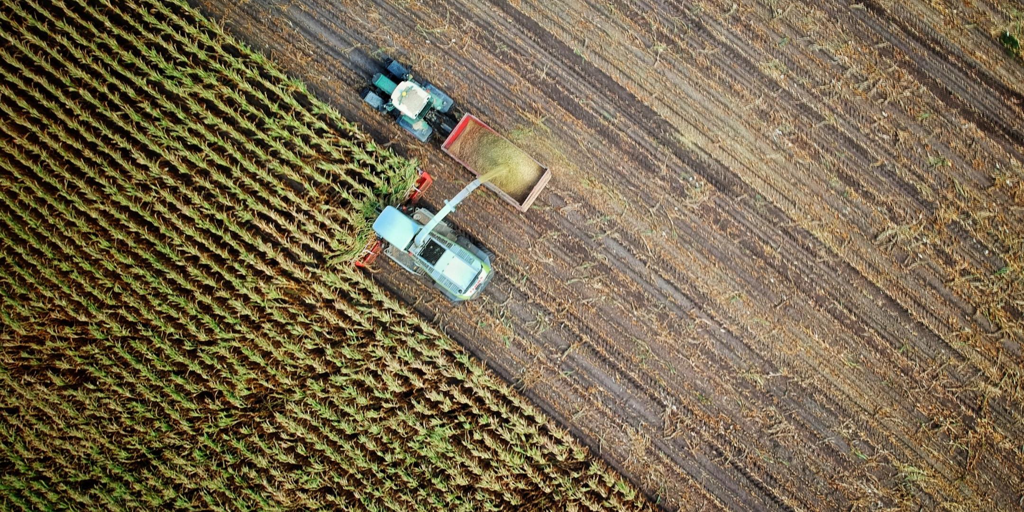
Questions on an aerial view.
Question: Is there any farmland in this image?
Yes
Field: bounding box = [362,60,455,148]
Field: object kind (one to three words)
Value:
work vehicle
